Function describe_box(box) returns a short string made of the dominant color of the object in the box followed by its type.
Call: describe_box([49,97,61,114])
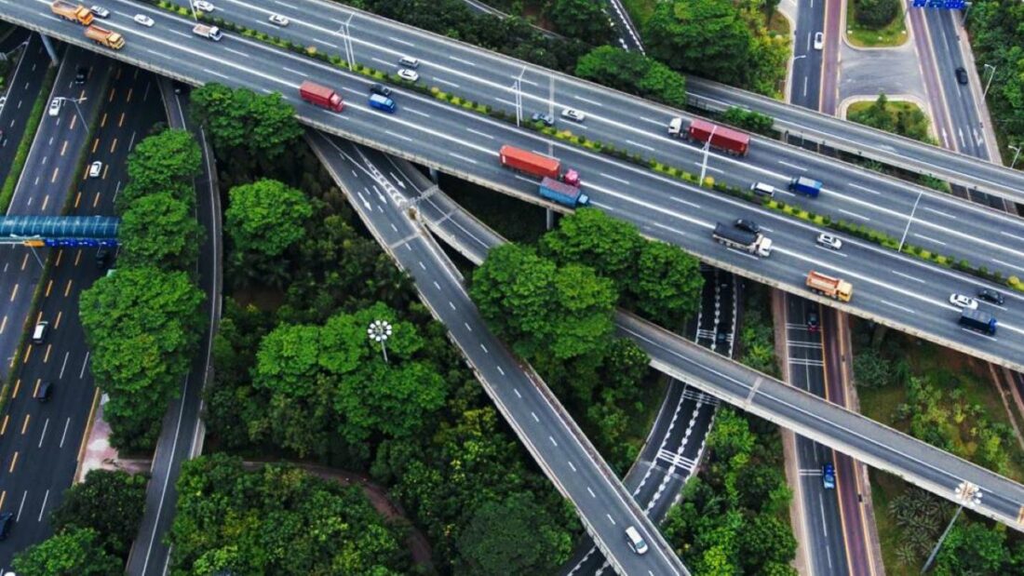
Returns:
white vehicle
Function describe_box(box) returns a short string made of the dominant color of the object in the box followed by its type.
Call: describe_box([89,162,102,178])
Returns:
white vehicle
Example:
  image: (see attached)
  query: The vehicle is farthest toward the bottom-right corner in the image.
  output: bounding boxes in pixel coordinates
[822,467,835,489]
